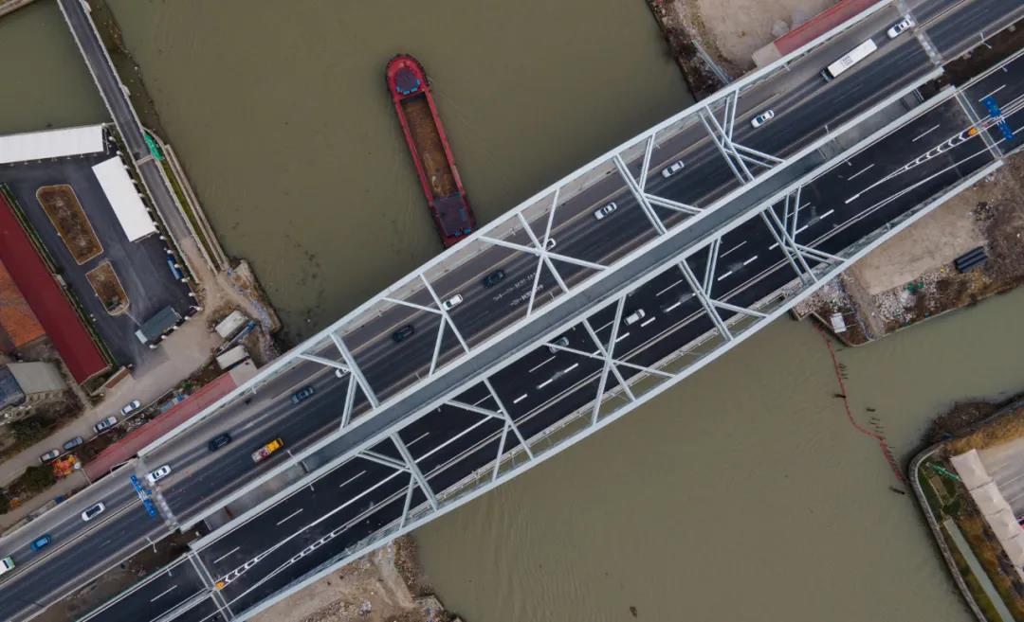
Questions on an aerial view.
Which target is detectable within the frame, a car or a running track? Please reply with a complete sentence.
The image shows a car.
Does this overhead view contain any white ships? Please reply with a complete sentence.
No, I can't see a single white ship in this photo.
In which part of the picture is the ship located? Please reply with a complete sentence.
Look in the top portion of the view to spot the ship.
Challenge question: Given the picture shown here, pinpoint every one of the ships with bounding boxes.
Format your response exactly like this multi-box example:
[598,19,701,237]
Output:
[387,50,473,252]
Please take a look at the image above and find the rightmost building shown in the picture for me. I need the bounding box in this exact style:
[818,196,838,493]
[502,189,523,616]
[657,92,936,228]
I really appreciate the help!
[827,310,855,333]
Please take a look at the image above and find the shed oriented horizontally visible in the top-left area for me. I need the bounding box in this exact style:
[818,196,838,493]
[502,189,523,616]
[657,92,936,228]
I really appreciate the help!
[0,125,112,168]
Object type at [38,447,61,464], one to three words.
car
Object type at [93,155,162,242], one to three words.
shed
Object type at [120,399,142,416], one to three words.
car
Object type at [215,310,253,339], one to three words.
building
